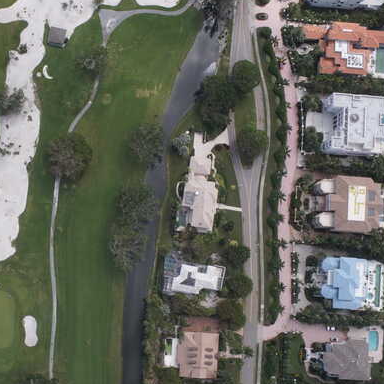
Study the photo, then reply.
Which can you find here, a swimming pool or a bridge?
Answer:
swimming pool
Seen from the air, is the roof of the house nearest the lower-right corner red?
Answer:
No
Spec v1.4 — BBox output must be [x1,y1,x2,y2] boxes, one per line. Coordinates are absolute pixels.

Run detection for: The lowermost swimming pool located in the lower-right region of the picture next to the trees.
[348,326,384,363]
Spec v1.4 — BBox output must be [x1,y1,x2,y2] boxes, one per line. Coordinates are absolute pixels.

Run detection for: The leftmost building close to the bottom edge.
[178,332,218,379]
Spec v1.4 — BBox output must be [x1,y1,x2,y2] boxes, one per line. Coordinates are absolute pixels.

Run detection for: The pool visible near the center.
[177,208,192,230]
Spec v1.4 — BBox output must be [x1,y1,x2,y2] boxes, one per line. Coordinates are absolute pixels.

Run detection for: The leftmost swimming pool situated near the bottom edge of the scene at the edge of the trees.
[164,338,178,366]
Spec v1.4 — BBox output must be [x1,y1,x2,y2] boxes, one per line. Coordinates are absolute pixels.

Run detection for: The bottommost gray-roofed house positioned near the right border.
[321,340,371,380]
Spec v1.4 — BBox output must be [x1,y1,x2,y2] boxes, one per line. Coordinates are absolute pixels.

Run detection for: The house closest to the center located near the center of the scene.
[182,156,218,231]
